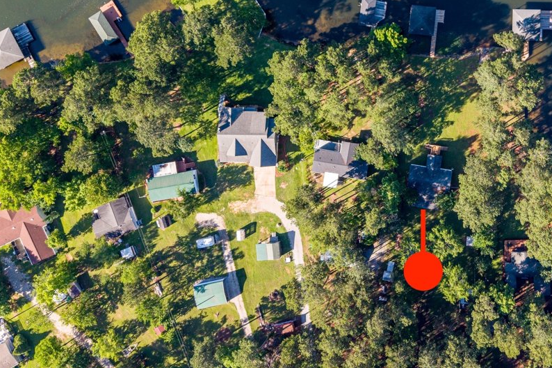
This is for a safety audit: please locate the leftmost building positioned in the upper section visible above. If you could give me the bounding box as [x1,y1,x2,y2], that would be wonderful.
[0,22,36,70]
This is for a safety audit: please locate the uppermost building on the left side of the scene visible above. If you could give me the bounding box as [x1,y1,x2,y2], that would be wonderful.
[88,0,128,45]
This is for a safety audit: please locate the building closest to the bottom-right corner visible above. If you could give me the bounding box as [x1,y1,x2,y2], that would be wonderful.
[504,238,547,297]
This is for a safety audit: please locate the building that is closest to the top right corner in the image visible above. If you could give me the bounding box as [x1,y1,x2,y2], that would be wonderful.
[512,9,552,40]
